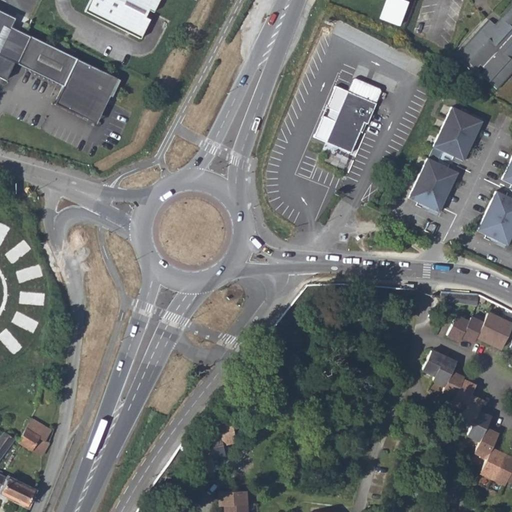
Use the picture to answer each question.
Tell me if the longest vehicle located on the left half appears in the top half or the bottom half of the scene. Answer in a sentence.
It is in the bottom half that the longest vehicle located on the left half appears.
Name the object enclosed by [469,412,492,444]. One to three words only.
house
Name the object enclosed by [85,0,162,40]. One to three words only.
building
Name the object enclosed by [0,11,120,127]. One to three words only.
building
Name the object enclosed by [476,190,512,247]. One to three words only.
house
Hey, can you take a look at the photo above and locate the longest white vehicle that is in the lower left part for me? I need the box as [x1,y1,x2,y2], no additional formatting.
[87,418,107,460]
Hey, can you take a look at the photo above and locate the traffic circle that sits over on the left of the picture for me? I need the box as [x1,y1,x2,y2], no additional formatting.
[131,170,254,293]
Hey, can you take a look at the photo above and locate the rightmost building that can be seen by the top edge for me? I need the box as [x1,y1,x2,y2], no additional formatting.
[462,6,512,88]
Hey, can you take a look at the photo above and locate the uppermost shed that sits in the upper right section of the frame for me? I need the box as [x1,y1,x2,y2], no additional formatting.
[378,0,410,28]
